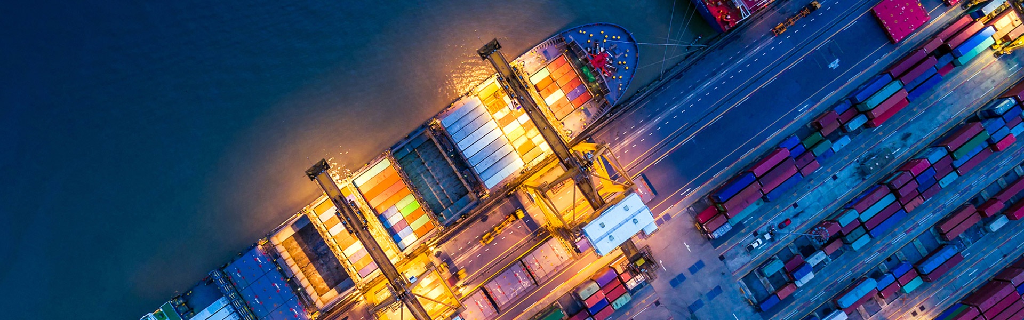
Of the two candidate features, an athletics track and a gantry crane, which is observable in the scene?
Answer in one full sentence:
This aerial view contains a gantry crane.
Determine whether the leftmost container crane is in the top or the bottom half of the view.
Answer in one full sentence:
The bottom half of the photo is where the leftmost container crane is.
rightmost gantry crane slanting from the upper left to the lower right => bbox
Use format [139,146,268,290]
[468,36,665,290]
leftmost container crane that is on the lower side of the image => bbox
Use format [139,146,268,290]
[292,161,486,320]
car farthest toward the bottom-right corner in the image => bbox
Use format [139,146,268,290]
[777,217,793,229]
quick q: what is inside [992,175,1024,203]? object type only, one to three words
shipping container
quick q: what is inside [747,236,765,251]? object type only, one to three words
vehicle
